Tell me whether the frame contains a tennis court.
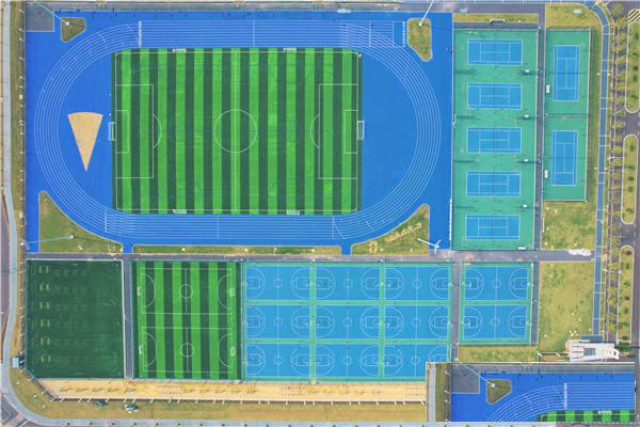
Yes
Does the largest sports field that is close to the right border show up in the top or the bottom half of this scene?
bottom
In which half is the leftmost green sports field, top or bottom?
bottom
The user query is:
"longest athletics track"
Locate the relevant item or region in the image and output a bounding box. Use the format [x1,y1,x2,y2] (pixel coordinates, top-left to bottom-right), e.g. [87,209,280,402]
[32,18,443,239]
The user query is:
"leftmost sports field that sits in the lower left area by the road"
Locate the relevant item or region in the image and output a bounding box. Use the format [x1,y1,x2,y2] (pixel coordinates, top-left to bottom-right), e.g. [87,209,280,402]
[27,260,122,379]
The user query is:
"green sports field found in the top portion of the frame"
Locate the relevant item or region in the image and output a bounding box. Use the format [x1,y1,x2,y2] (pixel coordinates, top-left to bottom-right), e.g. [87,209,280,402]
[111,47,362,215]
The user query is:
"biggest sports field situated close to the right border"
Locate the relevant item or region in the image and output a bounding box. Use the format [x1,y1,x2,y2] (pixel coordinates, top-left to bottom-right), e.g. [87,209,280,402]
[451,372,636,422]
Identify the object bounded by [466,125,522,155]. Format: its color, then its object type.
blue tennis court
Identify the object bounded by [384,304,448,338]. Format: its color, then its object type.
blue basketball court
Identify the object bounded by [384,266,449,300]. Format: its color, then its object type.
blue basketball court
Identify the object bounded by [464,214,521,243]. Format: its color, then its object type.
blue tennis court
